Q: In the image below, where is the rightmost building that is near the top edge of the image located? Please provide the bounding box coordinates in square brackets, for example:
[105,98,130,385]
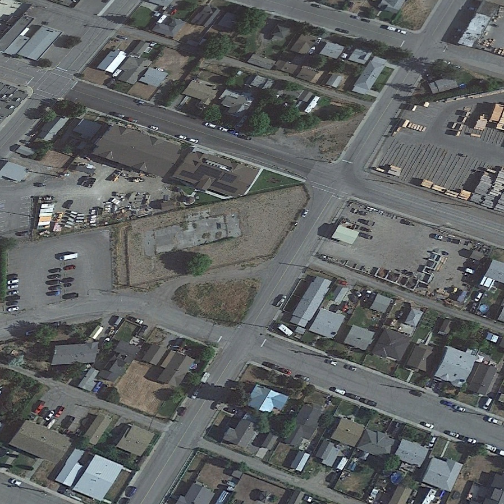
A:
[460,0,498,51]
